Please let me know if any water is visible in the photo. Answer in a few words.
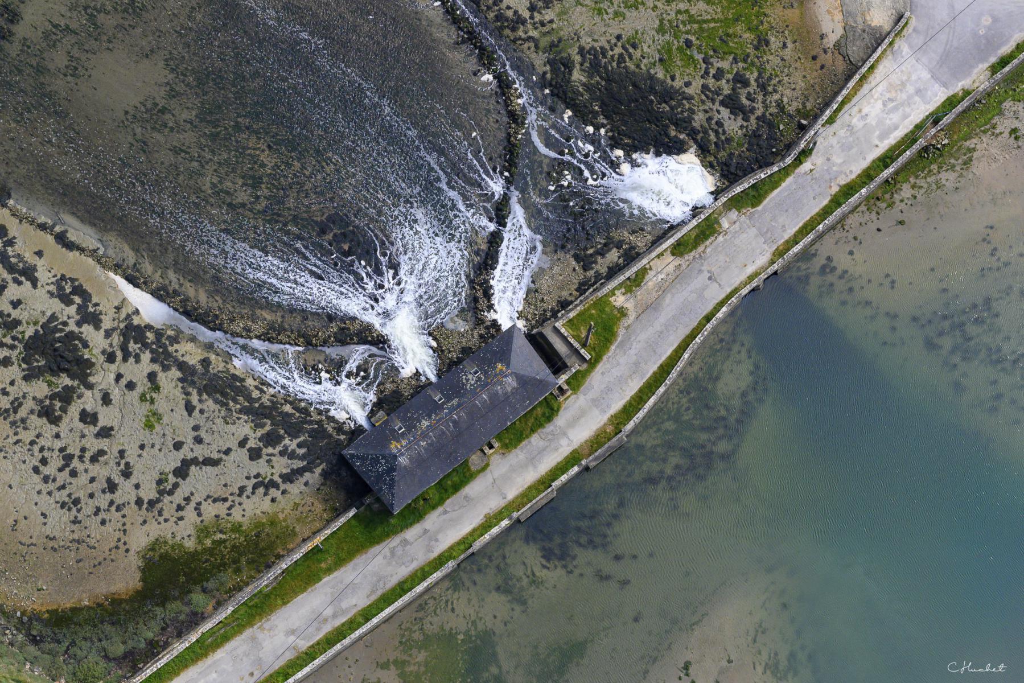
Yes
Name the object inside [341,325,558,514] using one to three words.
building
